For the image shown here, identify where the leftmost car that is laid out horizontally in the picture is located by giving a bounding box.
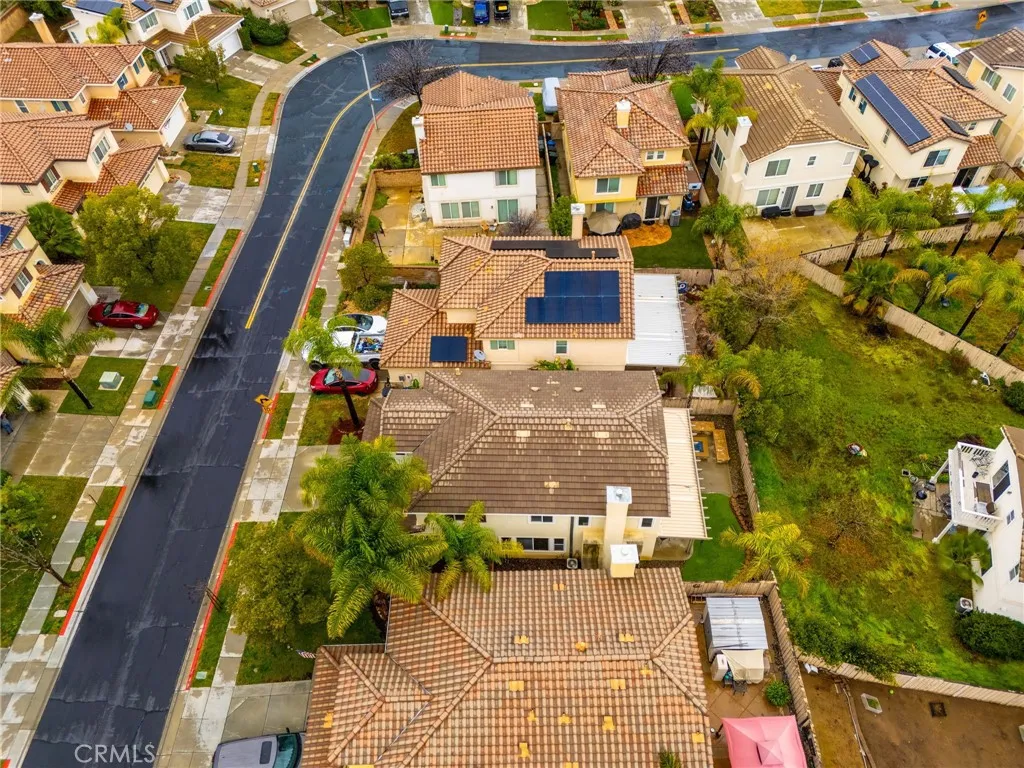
[87,300,159,330]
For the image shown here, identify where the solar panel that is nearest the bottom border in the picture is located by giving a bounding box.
[431,336,467,361]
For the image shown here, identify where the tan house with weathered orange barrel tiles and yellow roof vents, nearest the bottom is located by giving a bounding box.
[301,547,714,768]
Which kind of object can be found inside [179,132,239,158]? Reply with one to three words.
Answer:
car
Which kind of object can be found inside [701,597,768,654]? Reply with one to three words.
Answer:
shed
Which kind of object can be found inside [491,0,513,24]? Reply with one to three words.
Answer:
car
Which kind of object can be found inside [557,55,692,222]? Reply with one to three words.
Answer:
house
